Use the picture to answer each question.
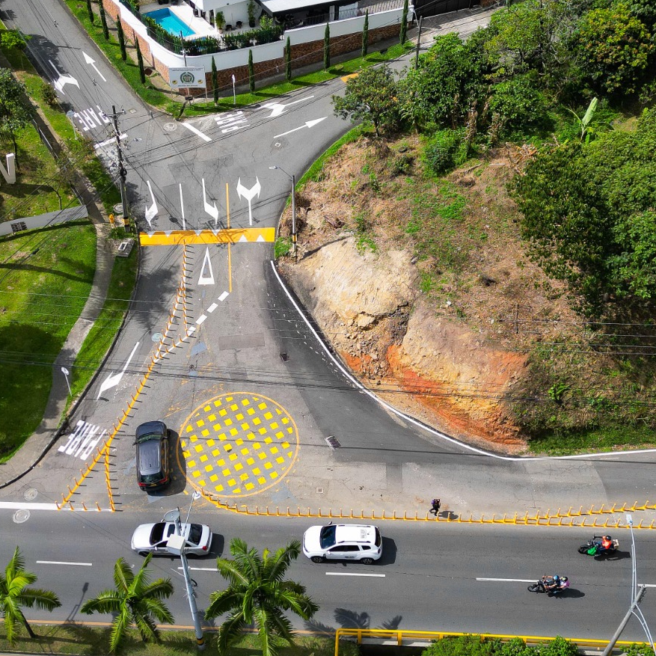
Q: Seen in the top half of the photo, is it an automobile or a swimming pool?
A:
swimming pool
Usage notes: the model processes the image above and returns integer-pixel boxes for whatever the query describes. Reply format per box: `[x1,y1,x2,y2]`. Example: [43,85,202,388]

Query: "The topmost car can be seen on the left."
[131,416,172,489]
